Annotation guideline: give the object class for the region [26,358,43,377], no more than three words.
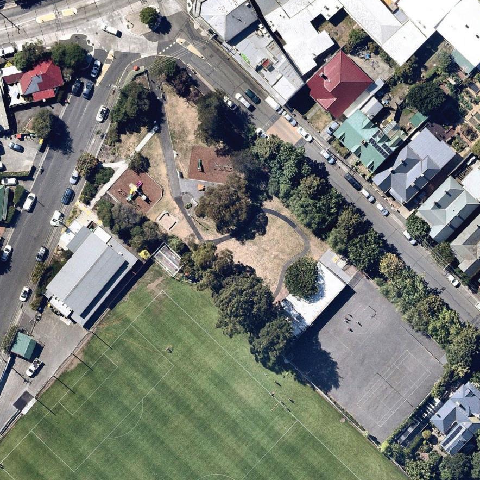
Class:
vehicle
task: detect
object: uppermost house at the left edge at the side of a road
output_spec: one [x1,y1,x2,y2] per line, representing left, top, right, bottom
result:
[1,61,64,102]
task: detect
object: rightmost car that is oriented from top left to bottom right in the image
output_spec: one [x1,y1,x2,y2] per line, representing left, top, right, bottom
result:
[446,274,461,288]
